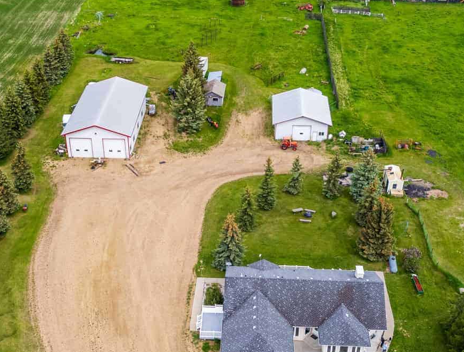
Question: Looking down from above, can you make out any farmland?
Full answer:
Yes, there is farmland in the image.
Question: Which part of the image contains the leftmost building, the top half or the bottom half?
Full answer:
Seen from above, the leftmost building lies in the top half of the view.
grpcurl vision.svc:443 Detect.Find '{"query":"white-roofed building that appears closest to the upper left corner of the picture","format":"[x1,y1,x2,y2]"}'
[63,78,145,158]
